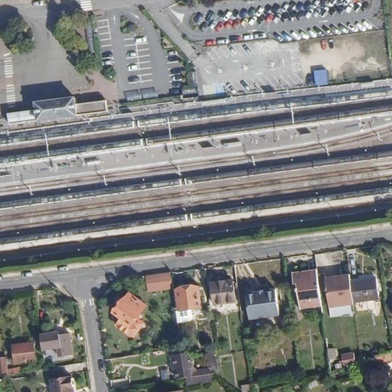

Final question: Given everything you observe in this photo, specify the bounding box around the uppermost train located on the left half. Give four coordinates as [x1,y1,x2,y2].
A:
[0,121,136,146]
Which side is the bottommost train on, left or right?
left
